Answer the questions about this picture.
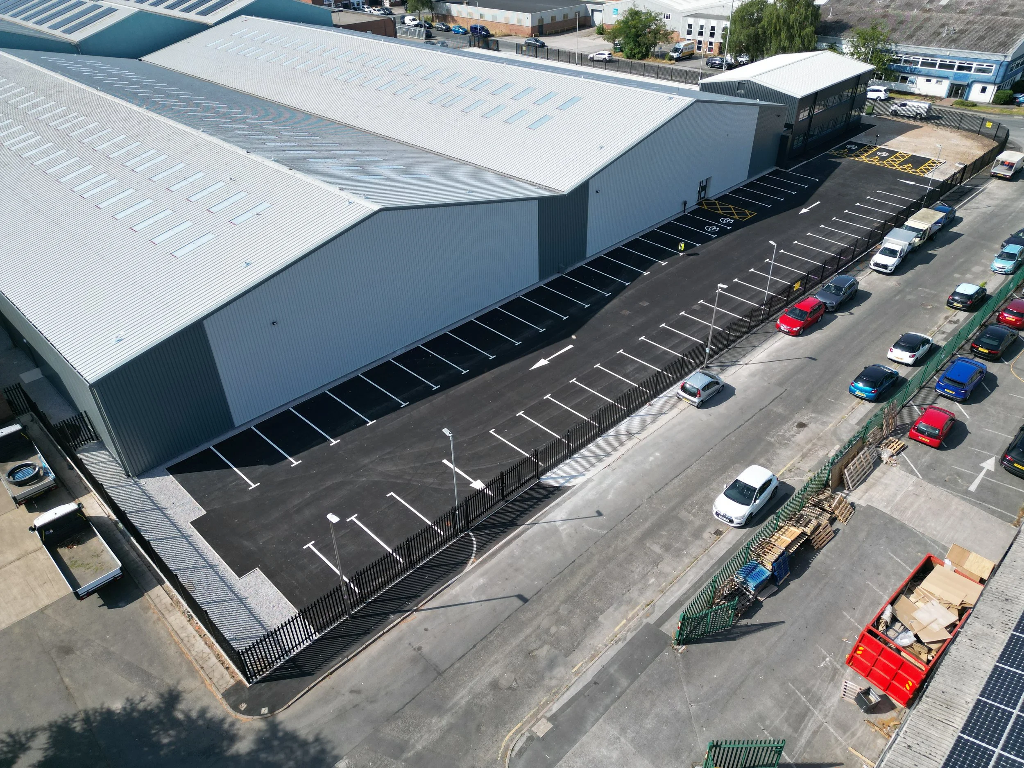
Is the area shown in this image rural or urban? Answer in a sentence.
From above, the setting appears urban.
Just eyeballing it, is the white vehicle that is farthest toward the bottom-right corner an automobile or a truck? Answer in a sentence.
It looks like the white vehicle that is farthest toward the bottom-right corner is an automobile.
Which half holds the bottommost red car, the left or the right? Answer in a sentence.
It is on the right.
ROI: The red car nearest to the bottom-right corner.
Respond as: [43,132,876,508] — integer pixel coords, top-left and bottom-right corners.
[911,404,962,449]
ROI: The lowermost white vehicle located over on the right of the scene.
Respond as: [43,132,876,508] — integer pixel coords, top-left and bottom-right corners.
[713,462,783,527]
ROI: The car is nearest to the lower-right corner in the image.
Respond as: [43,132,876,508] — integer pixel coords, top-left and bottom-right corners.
[991,423,1024,482]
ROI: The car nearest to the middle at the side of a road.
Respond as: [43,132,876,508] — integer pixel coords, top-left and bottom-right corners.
[675,370,726,410]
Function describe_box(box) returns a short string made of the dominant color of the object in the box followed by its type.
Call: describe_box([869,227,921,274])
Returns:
white truck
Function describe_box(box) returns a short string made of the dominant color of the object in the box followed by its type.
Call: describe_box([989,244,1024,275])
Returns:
blue car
